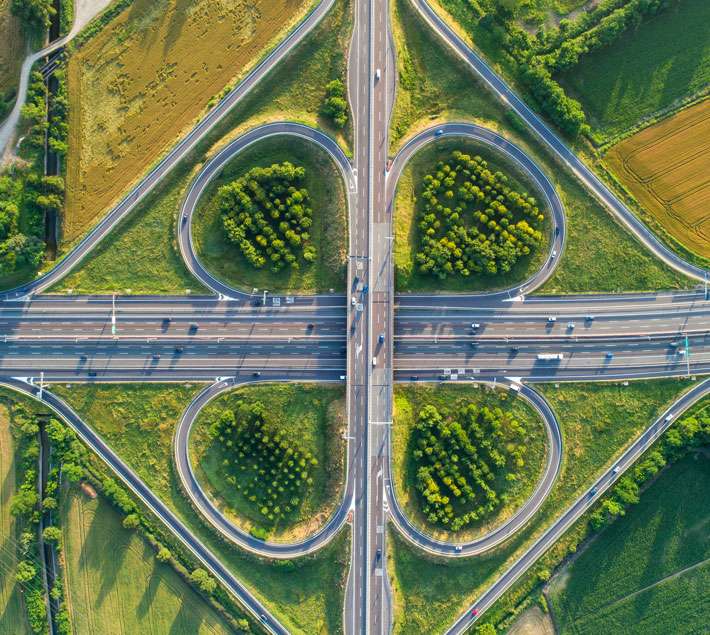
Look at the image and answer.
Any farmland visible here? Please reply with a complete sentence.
Yes, some farmland is visible.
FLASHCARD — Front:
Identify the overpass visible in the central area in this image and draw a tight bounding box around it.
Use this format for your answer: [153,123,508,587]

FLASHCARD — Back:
[345,281,395,397]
